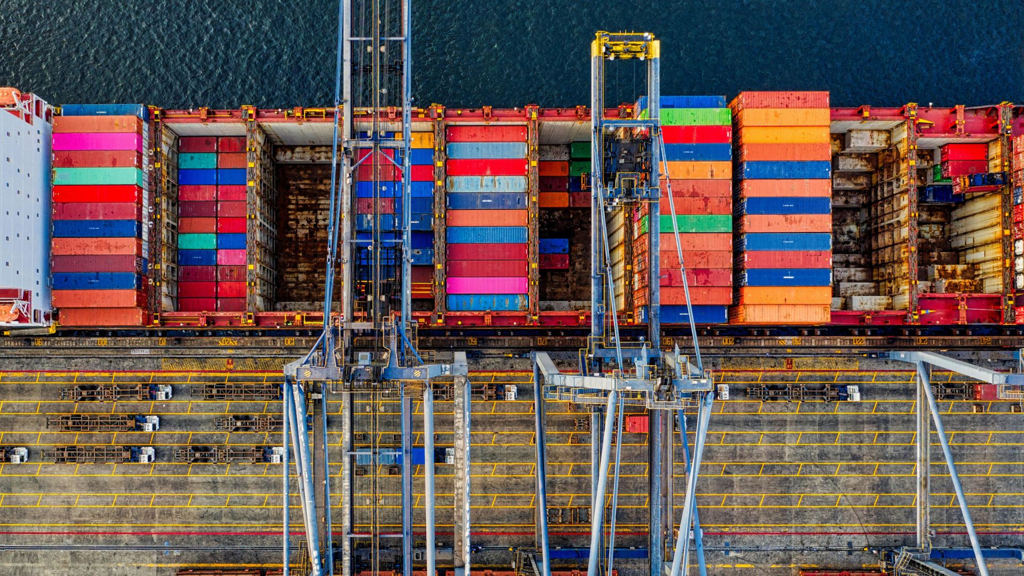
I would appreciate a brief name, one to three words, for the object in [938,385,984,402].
vehicle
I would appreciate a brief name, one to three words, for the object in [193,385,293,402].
vehicle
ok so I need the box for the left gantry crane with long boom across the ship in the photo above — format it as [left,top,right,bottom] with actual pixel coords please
[285,0,488,576]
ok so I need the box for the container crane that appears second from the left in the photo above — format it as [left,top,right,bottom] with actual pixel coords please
[504,28,718,576]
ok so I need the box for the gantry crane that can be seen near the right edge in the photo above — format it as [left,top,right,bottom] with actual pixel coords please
[852,349,1024,576]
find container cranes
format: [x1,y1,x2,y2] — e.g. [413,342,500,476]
[504,28,718,576]
[285,0,488,576]
[852,349,1024,576]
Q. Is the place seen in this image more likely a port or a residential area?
port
